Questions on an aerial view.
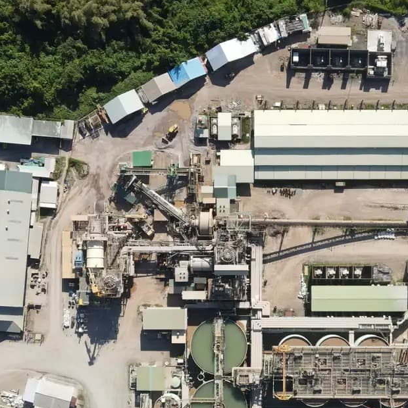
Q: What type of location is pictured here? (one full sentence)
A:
It's an industrial area.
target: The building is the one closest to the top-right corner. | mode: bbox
[366,31,393,52]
